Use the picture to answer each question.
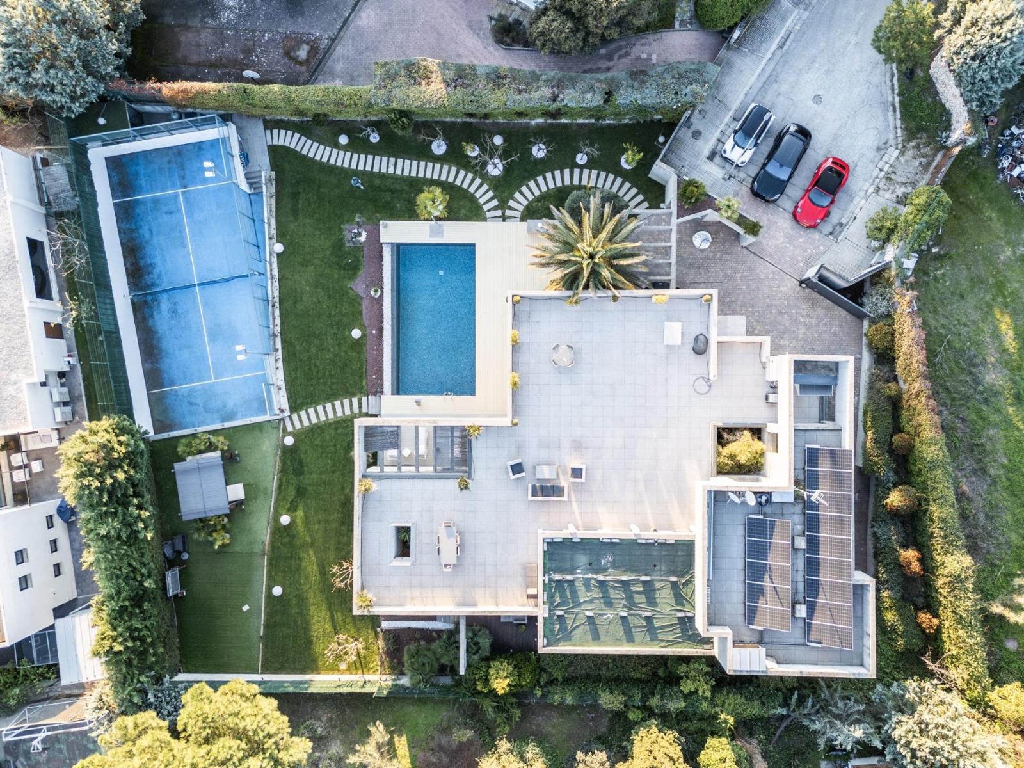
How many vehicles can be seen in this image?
3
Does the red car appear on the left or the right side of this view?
right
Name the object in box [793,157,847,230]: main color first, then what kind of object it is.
red car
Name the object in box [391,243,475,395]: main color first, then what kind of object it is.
blue swimming pool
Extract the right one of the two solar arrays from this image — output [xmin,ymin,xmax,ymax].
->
[804,443,853,651]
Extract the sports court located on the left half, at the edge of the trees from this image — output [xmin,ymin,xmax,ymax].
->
[110,141,279,433]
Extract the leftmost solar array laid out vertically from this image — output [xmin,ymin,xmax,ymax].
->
[744,513,791,633]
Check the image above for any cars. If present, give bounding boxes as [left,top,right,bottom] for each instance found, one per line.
[751,122,810,204]
[722,100,774,168]
[793,157,847,230]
